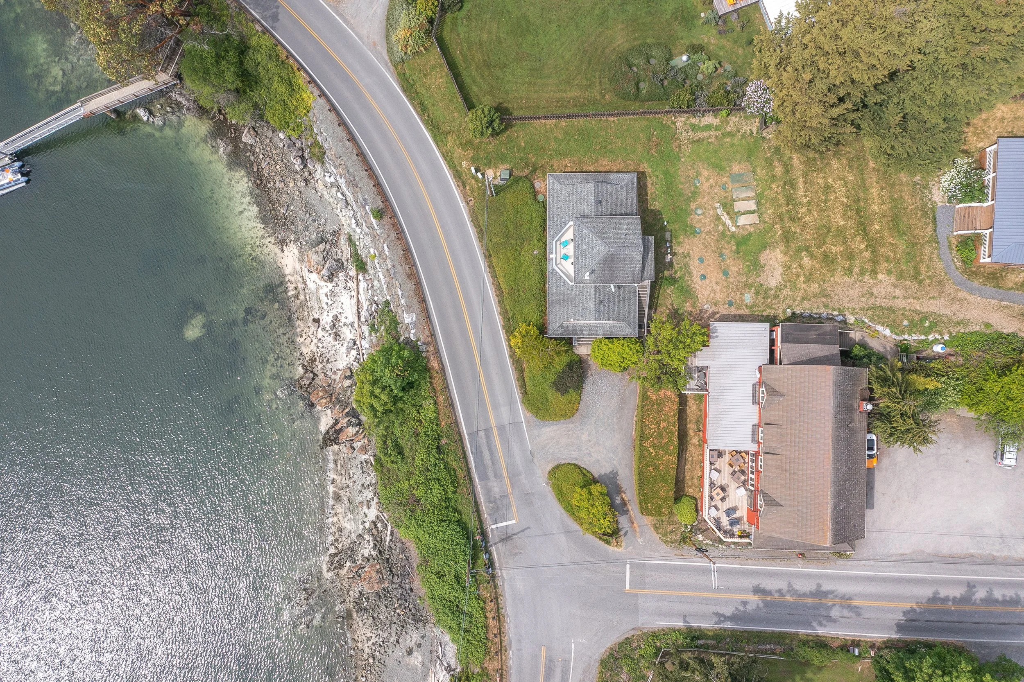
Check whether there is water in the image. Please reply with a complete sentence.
Yes, water shows up in the scene.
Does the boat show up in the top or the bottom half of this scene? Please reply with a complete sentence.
Seen from above, the boat lies in the top half of the view.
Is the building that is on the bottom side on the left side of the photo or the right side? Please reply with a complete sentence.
The building that is on the bottom side is on the right side of the image.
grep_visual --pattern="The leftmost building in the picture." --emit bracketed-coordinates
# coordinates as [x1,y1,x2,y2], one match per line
[546,172,654,351]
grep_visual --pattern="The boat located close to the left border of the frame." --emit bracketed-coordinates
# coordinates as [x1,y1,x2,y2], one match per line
[0,165,27,189]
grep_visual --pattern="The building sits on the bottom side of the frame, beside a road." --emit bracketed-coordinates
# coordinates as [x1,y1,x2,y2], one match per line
[683,322,875,554]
